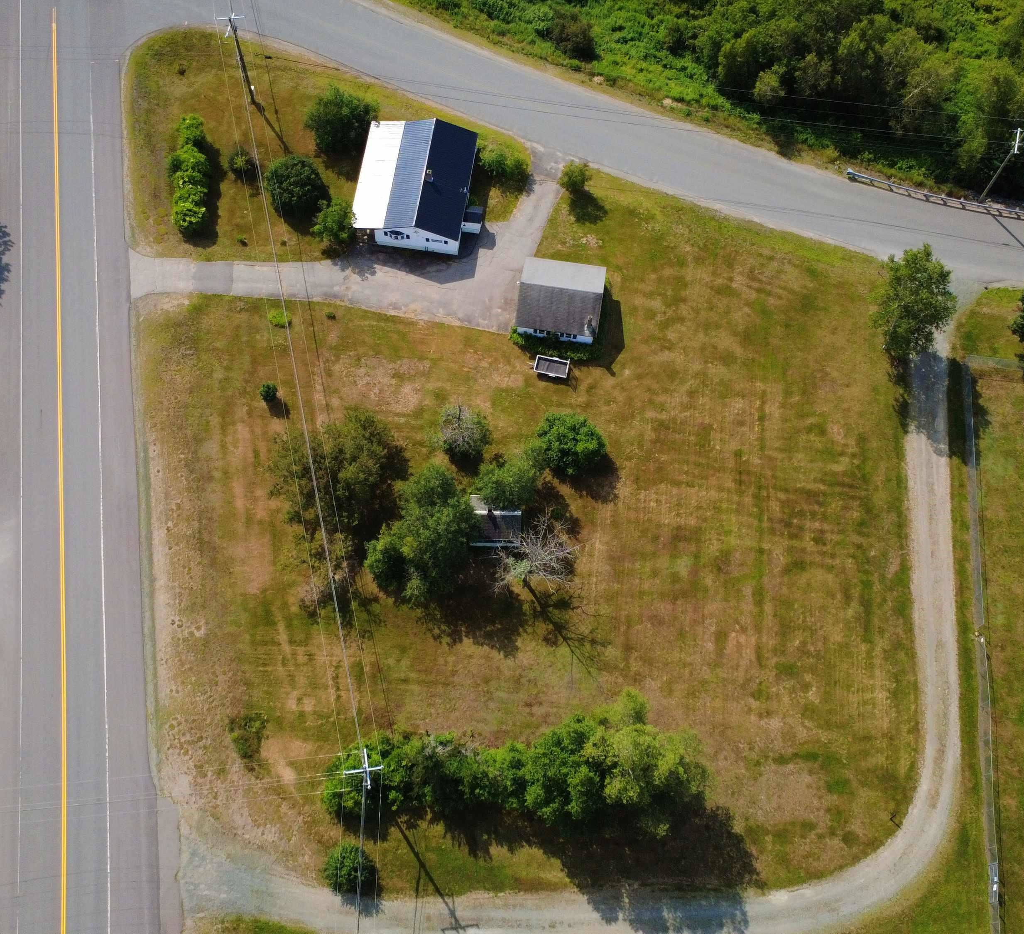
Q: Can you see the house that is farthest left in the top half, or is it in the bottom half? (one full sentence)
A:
It is in the top half that the house that is farthest left appears.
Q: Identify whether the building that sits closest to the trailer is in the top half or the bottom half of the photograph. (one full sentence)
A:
The building that sits closest to the trailer sits in the top half of the picture.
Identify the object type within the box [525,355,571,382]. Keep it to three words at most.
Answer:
trailer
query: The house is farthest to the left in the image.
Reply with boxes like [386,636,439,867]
[352,117,482,255]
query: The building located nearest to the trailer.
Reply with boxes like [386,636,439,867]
[514,259,606,345]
